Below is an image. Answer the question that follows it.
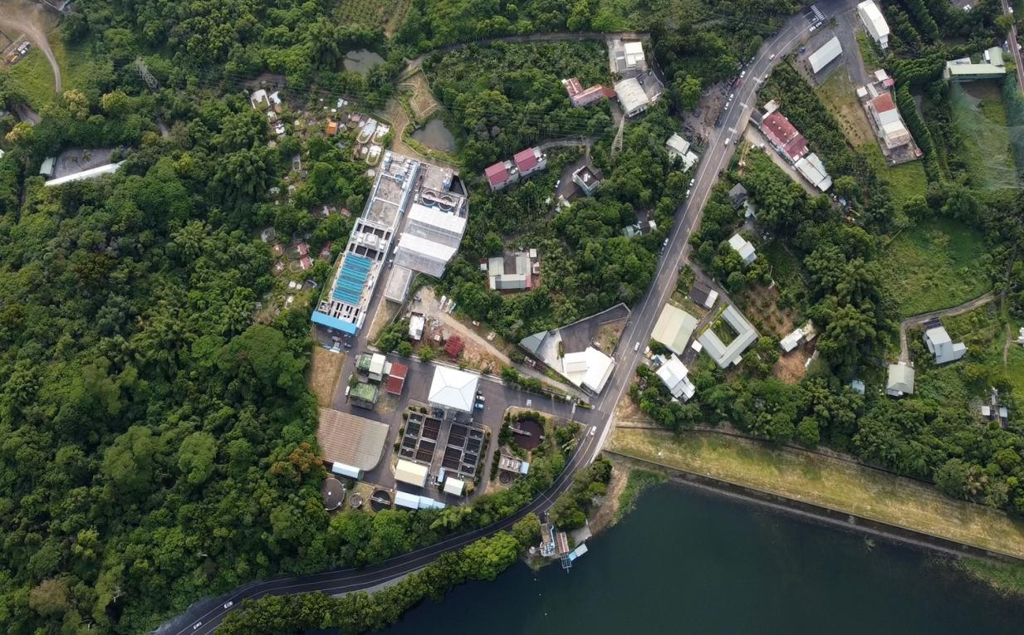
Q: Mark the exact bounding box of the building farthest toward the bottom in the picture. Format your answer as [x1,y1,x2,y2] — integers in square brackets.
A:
[539,523,555,557]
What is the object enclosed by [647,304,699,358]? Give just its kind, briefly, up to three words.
building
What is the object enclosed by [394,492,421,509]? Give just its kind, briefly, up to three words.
shed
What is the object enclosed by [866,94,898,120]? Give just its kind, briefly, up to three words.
house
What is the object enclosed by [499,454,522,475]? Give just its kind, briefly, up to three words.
building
